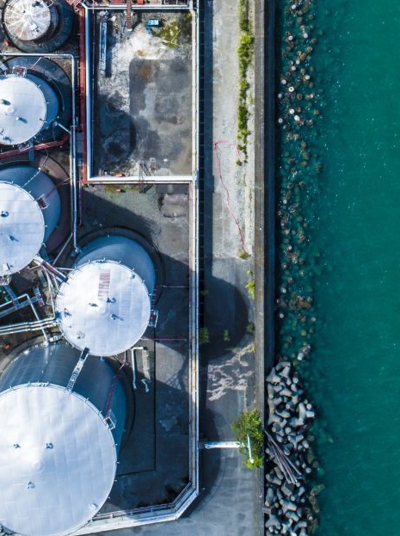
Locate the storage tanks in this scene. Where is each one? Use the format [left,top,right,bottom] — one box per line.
[0,149,78,289]
[0,0,74,53]
[54,217,167,360]
[0,329,139,536]
[0,55,79,156]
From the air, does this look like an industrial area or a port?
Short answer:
industrial area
